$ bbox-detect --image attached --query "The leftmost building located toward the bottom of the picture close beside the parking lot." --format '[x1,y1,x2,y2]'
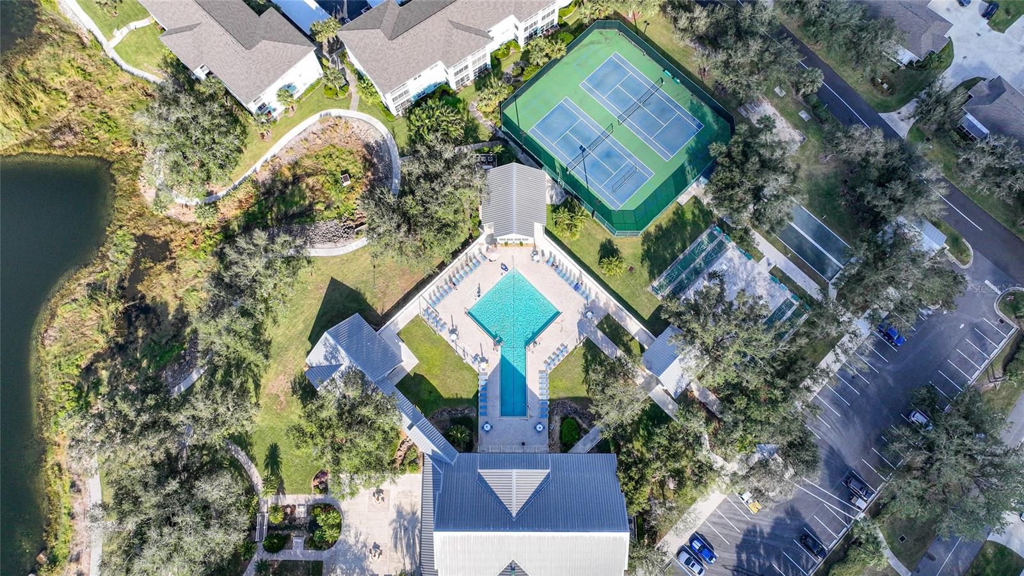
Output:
[416,453,629,576]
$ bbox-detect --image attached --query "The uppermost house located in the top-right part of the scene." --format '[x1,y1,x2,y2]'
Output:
[858,0,953,73]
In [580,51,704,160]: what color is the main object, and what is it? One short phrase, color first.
blue tennis court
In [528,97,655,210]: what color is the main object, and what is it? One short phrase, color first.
blue tennis court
